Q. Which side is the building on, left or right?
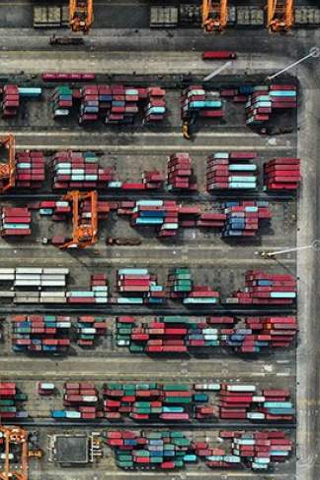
left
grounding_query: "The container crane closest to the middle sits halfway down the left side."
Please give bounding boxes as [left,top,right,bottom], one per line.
[54,191,97,249]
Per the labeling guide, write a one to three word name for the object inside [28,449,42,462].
vehicle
